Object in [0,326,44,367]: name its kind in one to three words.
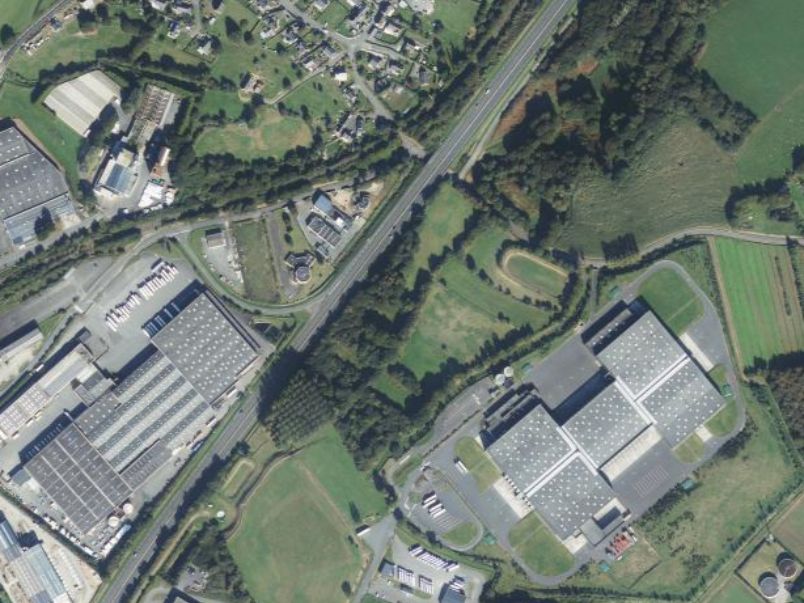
shed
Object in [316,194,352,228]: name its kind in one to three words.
building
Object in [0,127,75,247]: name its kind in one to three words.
building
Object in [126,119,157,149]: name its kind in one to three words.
shed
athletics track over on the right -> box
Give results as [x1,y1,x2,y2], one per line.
[494,248,573,304]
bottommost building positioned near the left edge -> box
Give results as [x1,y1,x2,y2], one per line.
[11,543,71,603]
